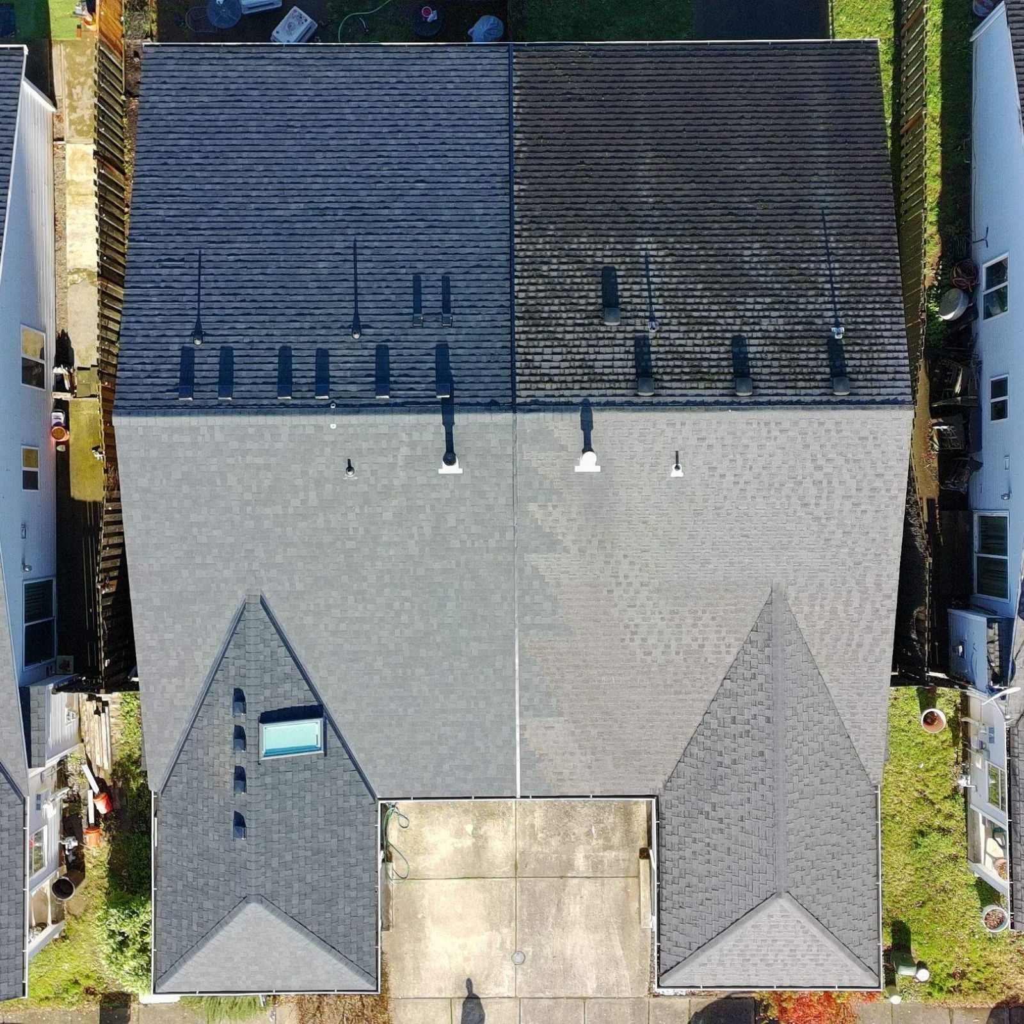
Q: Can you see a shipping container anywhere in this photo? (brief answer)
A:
No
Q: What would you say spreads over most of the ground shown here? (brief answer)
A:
buildings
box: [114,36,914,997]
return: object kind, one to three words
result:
house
